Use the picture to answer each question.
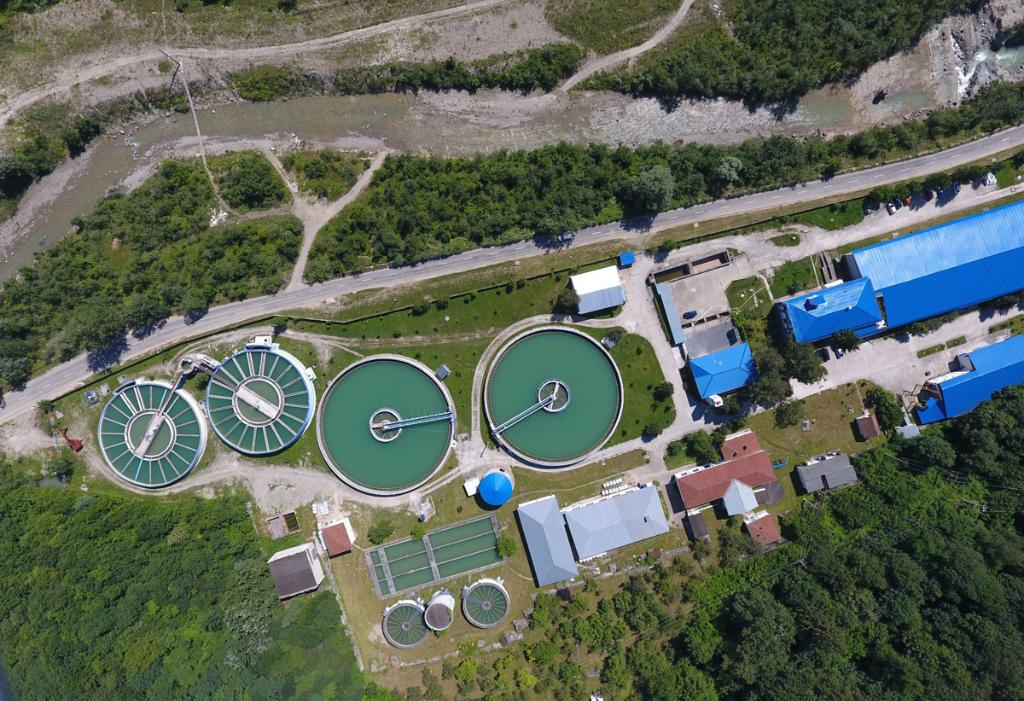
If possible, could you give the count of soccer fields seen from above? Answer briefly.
0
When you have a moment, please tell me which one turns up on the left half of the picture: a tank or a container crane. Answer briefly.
tank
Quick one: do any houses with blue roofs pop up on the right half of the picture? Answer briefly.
Yes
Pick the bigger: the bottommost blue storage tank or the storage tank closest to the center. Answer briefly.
the storage tank closest to the center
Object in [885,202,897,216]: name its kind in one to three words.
vehicle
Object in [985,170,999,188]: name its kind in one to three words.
vehicle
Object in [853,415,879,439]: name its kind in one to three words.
shed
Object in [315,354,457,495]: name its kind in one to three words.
storage tank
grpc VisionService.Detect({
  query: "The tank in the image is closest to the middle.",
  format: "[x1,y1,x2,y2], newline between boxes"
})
[484,326,624,466]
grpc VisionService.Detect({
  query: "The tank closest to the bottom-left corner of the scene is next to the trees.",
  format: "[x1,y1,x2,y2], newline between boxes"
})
[96,379,210,489]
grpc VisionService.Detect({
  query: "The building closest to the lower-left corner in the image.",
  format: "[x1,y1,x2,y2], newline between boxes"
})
[268,543,324,598]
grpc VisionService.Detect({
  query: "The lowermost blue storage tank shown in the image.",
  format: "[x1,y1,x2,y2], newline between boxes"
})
[479,465,512,504]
